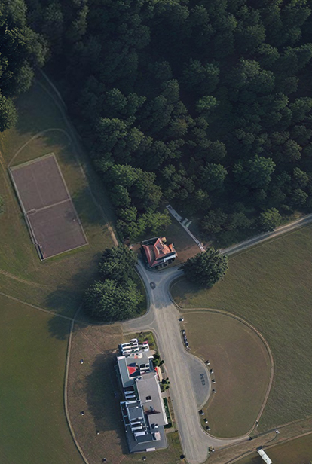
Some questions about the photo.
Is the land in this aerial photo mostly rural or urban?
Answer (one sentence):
It looks rural.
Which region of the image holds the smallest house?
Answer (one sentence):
Look in the center portion of the view to spot the smallest house.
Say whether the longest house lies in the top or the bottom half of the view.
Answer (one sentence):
The longest house is in the bottom half of the image.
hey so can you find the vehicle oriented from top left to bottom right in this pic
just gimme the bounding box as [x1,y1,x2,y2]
[257,448,272,464]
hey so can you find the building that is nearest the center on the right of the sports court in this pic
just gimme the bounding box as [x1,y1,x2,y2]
[141,236,177,270]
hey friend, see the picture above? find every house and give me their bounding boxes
[114,350,170,453]
[141,236,177,270]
